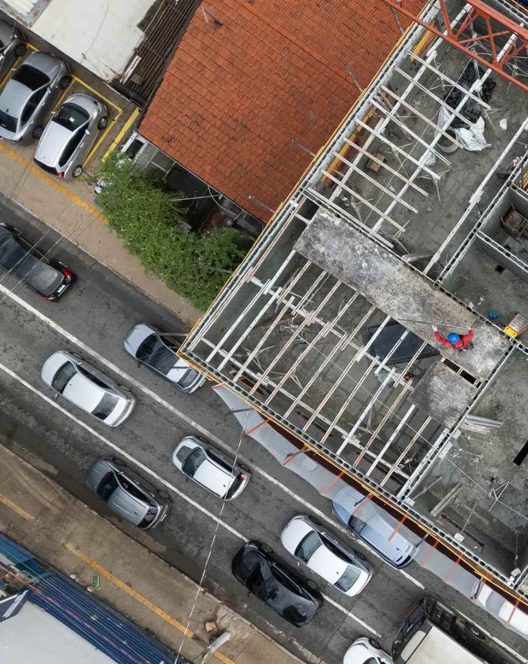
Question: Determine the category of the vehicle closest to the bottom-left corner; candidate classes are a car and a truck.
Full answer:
What you see as the vehicle closest to the bottom-left corner is a car.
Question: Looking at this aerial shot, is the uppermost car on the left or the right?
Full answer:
It is on the left.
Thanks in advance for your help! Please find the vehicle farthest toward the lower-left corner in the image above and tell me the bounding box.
[86,456,177,532]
